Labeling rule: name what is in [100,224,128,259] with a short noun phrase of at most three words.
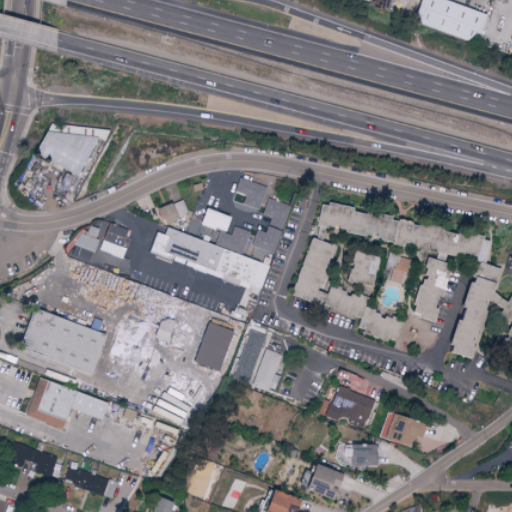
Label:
building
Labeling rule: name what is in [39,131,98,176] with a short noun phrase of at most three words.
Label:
shed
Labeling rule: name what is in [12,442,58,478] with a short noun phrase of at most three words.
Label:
house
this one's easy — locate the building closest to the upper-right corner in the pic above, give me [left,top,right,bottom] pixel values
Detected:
[420,0,490,40]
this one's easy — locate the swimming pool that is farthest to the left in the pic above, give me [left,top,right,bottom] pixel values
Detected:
[254,451,270,472]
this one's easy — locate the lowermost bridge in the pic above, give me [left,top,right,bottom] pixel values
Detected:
[0,12,58,54]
